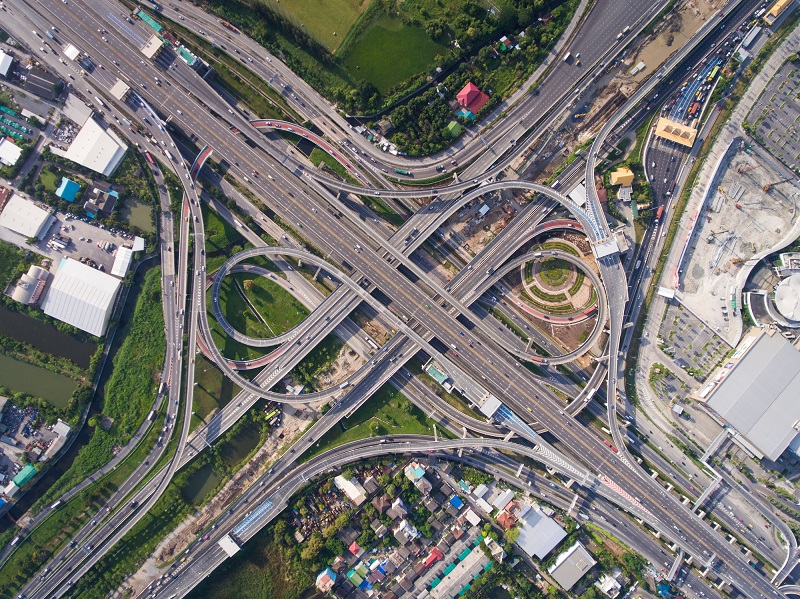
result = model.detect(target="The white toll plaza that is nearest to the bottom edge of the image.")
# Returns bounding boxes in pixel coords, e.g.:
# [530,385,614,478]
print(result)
[218,529,245,557]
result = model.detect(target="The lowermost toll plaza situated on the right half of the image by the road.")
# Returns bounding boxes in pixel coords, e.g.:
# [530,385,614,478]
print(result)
[475,390,503,419]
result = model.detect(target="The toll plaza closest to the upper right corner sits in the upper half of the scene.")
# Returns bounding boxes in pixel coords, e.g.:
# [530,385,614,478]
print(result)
[649,117,698,147]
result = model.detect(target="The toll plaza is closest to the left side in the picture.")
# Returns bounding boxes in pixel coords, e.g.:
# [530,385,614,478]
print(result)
[62,43,82,62]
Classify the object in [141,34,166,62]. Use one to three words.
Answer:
toll station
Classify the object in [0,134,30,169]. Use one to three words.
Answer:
building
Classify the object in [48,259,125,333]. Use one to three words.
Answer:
building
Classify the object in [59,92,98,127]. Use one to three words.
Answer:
shed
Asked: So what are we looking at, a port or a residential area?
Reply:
residential area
